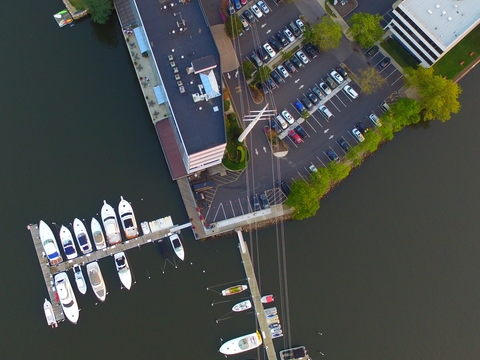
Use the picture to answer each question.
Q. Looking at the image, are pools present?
No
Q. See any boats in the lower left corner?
Yes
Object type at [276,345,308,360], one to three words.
boat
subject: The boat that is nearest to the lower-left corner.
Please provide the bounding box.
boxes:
[44,298,56,326]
